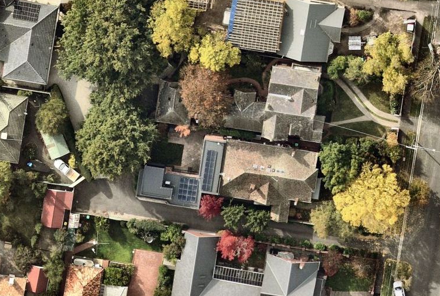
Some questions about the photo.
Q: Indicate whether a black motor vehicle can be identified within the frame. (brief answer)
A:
No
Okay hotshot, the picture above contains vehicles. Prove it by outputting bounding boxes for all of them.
[392,279,405,296]
[53,156,79,184]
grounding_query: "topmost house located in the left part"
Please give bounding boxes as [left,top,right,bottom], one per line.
[0,0,61,86]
